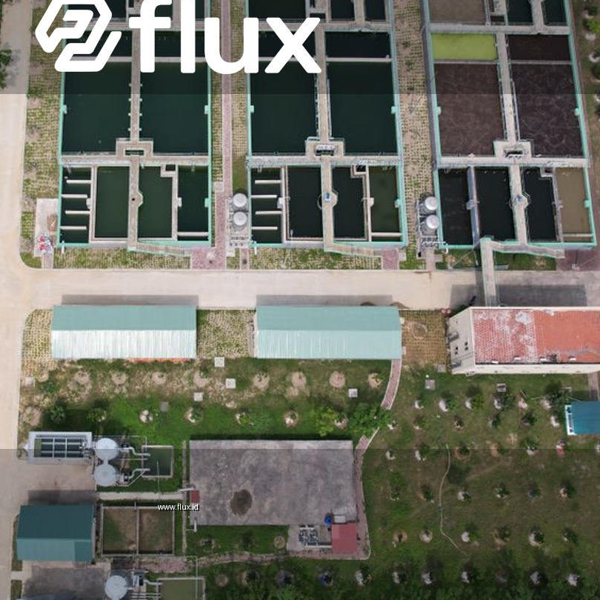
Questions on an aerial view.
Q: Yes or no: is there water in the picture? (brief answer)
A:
Yes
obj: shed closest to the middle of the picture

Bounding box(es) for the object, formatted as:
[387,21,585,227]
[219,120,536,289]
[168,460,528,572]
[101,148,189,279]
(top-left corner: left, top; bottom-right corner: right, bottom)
[253,306,402,360]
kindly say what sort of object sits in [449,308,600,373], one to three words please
building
